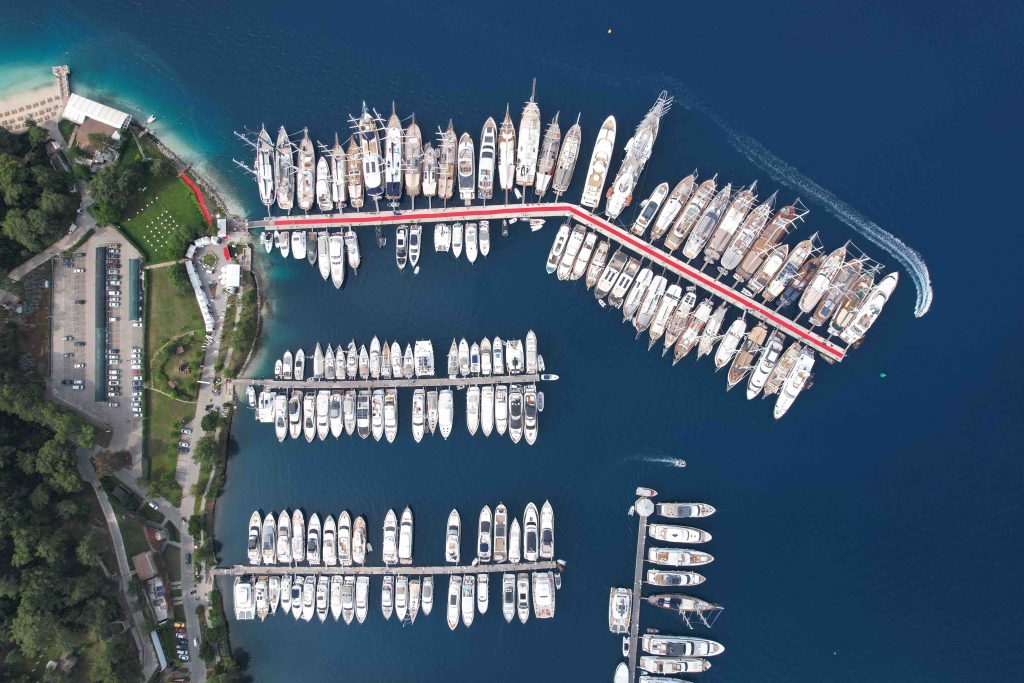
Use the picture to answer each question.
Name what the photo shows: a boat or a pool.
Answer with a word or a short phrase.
boat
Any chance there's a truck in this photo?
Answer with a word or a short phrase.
No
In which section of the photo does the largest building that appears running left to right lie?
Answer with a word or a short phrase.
top left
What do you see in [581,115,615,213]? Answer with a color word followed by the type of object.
white boat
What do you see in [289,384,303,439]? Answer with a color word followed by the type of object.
white boat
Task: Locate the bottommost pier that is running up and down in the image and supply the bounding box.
[629,496,654,683]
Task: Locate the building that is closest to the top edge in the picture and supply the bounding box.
[61,96,135,131]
